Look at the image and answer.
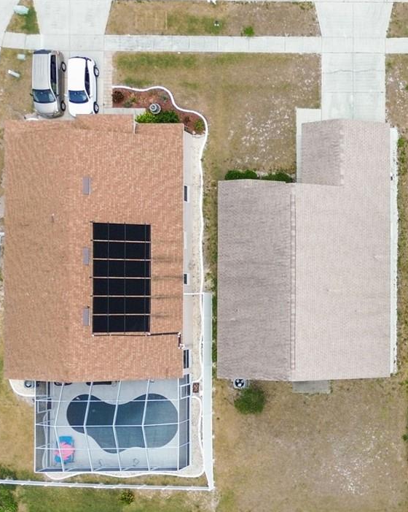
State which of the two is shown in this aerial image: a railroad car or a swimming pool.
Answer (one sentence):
Of the two, only a swimming pool appears.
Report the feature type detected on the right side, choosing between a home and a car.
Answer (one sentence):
The one visible on the right side is a home.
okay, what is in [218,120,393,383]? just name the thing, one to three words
house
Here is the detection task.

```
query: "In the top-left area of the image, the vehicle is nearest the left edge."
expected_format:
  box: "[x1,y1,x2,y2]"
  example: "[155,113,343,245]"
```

[30,49,68,120]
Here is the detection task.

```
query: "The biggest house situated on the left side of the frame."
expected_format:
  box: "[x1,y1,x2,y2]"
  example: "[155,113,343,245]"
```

[1,113,198,382]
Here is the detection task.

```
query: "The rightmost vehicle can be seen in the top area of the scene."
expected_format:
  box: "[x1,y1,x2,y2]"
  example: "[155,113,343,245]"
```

[65,56,100,119]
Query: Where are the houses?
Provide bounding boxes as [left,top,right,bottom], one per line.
[1,113,198,382]
[218,120,393,383]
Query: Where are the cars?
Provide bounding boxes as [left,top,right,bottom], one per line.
[30,49,68,120]
[65,56,100,119]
